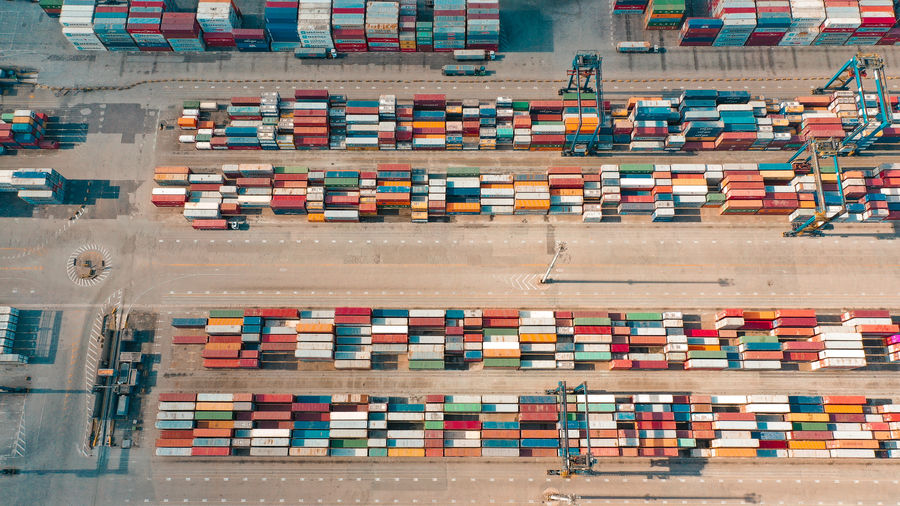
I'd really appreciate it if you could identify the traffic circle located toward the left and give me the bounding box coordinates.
[68,243,112,286]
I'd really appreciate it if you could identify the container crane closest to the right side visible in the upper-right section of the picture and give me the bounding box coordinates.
[821,57,892,155]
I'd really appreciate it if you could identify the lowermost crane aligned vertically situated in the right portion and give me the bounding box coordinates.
[546,379,592,475]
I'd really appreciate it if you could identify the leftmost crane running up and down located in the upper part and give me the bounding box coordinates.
[560,54,603,155]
